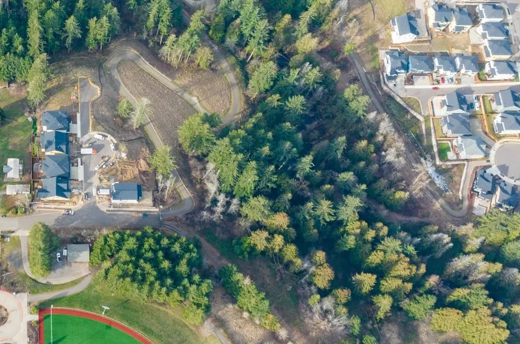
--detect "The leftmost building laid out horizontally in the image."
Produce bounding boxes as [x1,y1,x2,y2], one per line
[6,184,31,196]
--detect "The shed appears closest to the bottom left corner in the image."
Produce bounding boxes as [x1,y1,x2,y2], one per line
[66,244,91,264]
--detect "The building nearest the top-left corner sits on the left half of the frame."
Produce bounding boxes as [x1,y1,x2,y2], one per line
[44,110,68,133]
